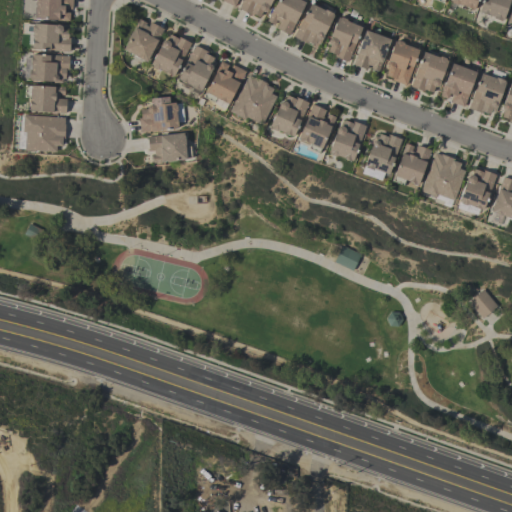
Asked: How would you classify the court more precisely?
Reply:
basketball court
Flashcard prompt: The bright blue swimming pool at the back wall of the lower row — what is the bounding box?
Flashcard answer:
[296,144,319,160]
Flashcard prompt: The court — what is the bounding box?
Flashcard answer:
[112,249,208,304]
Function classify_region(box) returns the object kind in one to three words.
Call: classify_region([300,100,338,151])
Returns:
house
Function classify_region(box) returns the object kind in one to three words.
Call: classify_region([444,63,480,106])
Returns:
house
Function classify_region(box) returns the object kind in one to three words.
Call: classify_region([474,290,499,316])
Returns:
building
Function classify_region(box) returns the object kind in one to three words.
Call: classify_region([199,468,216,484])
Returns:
camper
